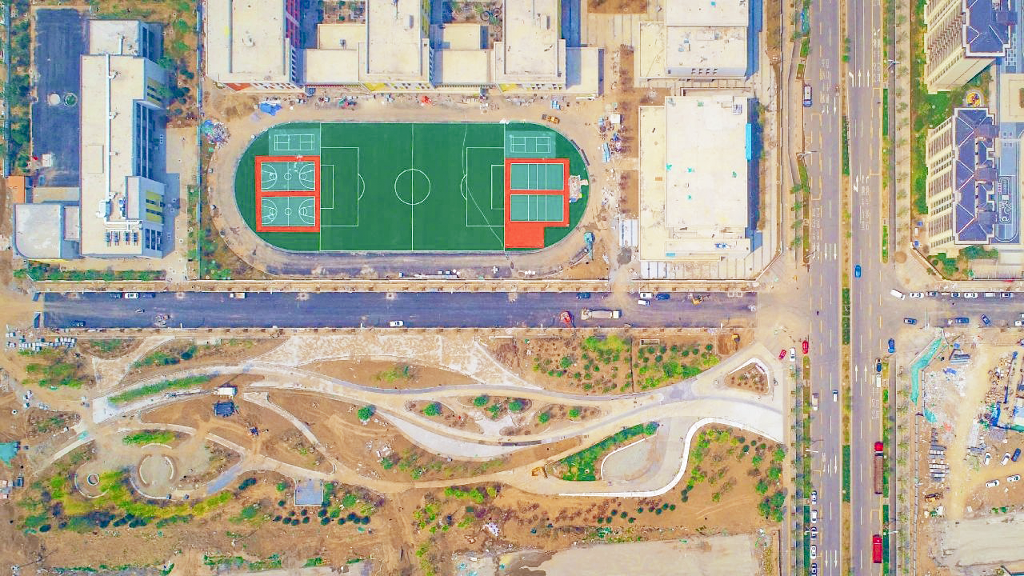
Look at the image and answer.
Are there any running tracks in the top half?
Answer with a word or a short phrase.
Yes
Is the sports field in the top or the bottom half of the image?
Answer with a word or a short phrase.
top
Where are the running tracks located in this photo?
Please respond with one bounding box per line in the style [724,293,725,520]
[209,96,614,278]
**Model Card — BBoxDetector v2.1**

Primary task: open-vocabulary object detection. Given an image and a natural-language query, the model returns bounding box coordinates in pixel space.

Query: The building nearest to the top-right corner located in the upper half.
[922,0,1023,75]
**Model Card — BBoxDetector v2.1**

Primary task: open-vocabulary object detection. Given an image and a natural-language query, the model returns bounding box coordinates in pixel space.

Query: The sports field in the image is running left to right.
[233,121,590,253]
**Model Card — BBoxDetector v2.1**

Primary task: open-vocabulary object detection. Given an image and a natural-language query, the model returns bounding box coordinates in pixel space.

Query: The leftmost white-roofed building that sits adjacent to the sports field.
[80,19,165,256]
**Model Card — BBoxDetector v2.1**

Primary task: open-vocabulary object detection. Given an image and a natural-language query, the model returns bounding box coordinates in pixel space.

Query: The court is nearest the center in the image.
[511,194,563,222]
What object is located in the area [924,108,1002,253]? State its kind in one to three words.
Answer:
building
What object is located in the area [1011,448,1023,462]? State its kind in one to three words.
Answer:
vehicle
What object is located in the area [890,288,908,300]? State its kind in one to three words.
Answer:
vehicle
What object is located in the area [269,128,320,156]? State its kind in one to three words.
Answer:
sports court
